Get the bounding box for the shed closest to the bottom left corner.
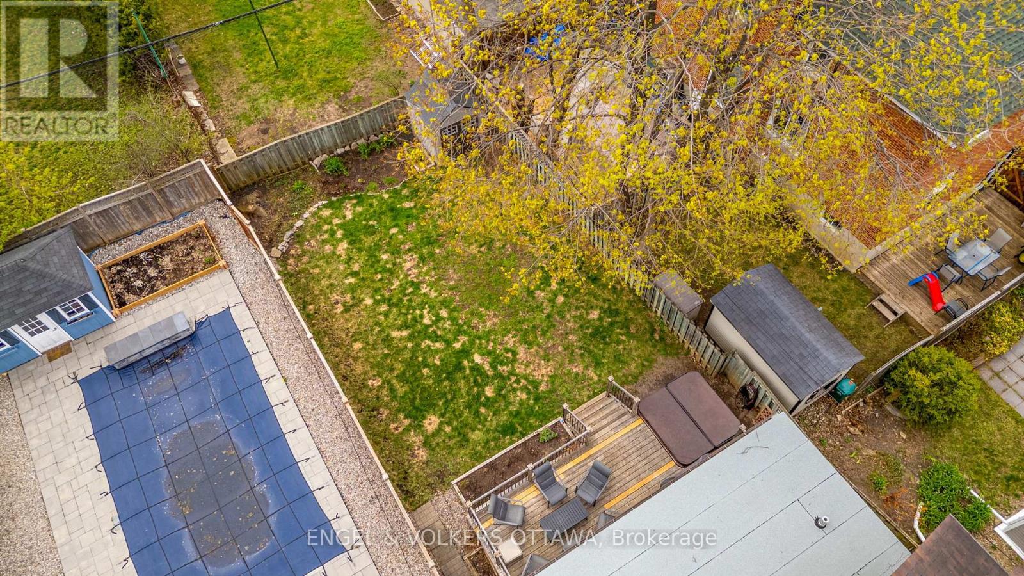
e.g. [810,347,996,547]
[0,224,115,371]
